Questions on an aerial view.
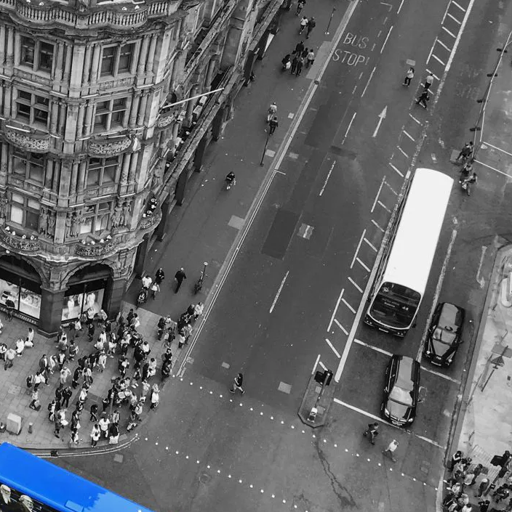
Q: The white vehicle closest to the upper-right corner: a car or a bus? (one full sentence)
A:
Specifically, the white vehicle closest to the upper-right corner is a bus.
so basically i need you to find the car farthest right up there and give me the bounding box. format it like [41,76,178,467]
[422,292,468,359]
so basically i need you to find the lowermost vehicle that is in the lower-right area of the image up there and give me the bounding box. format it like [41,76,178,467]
[382,346,430,421]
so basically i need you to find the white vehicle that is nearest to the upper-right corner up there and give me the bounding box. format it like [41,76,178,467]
[363,168,458,337]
